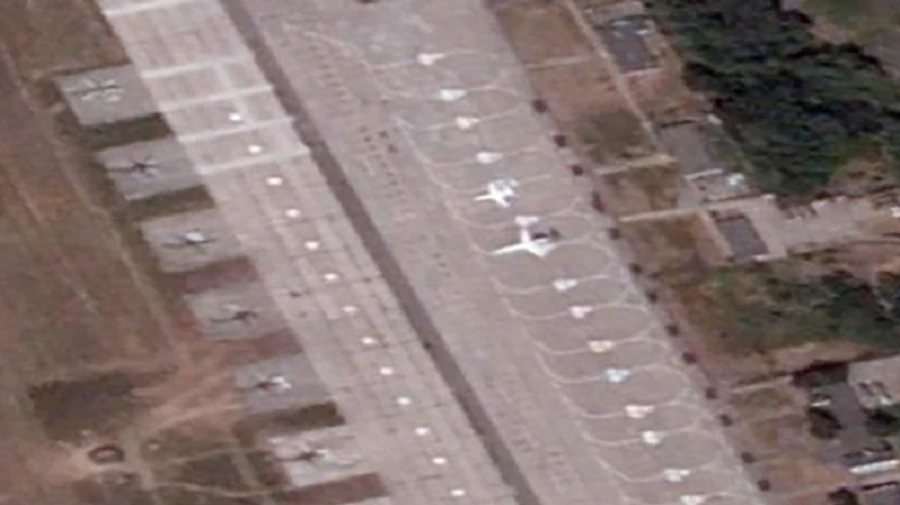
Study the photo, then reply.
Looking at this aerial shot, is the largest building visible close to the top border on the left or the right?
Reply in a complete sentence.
The largest building visible close to the top border is on the right side of the image.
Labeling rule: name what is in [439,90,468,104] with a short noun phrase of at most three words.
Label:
airplane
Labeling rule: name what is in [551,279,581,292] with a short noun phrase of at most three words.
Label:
airplane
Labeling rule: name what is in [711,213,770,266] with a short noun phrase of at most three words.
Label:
building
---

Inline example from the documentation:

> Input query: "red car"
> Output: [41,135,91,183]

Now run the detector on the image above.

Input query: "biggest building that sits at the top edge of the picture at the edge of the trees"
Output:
[603,17,657,79]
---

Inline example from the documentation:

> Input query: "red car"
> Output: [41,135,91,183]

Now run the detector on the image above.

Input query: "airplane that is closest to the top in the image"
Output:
[415,53,444,67]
